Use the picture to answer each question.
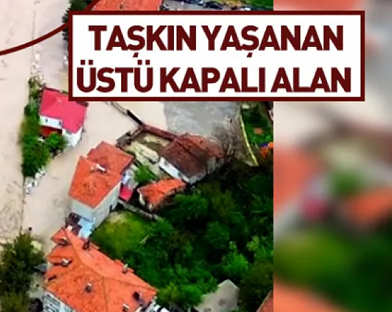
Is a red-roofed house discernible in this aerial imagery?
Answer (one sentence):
Yes, the picture does show a red-roofed house.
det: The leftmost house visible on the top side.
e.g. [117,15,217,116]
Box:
[41,93,98,151]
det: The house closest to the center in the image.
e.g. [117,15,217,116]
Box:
[159,136,227,180]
